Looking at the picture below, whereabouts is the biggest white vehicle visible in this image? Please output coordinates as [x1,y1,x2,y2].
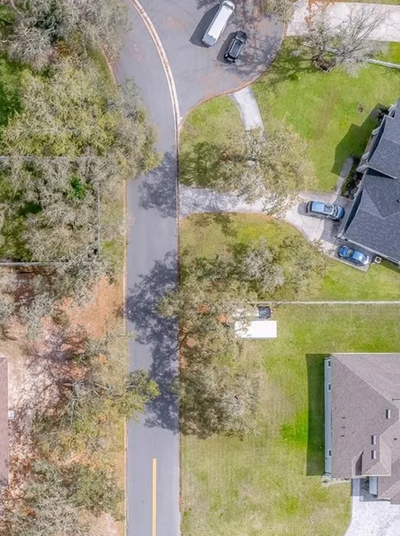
[199,5,231,52]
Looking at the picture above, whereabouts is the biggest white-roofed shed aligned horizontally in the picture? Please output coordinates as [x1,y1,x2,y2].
[231,321,277,338]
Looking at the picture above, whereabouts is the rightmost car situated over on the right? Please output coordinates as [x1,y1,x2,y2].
[335,244,370,267]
